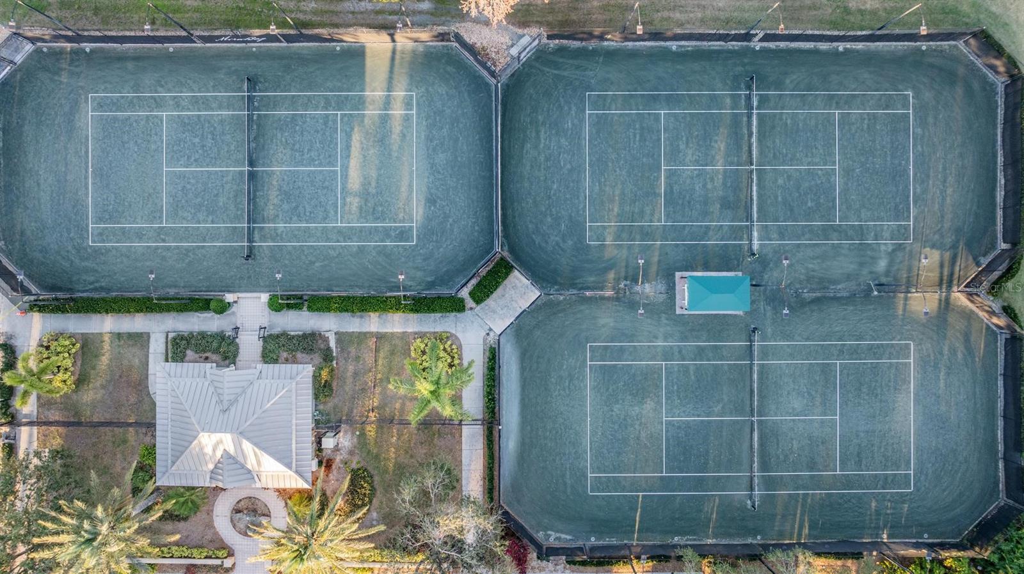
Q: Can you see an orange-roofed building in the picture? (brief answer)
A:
No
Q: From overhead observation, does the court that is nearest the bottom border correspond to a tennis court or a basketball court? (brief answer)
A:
tennis court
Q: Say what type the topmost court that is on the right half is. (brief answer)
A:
tennis court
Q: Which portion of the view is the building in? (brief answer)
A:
bottom left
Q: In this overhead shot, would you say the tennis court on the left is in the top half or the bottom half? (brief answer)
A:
top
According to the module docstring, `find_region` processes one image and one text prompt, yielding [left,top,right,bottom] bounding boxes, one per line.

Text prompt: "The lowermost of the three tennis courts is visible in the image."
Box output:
[499,293,997,544]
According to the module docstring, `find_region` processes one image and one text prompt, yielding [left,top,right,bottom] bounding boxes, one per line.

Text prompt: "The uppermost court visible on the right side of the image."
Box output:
[499,42,1001,293]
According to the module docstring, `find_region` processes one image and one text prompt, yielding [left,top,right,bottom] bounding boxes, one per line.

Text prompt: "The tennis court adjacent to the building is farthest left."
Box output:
[0,42,498,294]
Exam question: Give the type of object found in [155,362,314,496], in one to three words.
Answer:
building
